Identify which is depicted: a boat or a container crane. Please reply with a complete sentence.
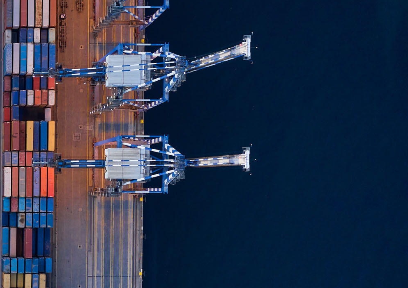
There is a container crane in the scene.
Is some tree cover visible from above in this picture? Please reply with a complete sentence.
No, there is no tree cover in the image.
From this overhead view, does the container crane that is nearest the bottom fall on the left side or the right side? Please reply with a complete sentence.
The container crane that is nearest the bottom appears in the left half of the scene.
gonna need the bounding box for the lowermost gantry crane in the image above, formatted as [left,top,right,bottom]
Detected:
[31,132,252,204]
